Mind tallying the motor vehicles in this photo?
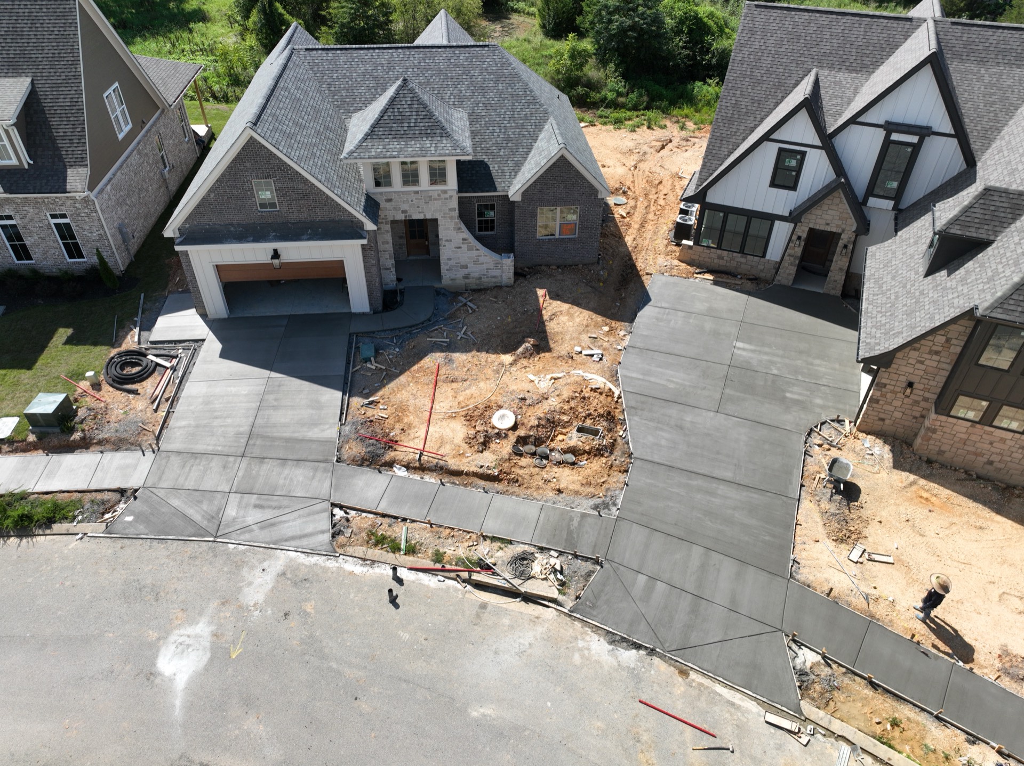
none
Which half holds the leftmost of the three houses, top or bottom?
top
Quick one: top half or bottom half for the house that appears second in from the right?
top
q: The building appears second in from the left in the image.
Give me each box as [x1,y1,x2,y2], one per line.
[162,7,612,321]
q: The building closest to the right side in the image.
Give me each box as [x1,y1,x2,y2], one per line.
[670,0,1024,486]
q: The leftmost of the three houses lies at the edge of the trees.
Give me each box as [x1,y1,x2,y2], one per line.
[0,0,218,280]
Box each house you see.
[0,0,218,280]
[670,0,1024,486]
[162,7,612,321]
